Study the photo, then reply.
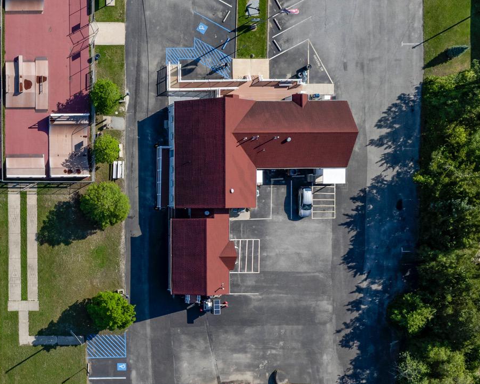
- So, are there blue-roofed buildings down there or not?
No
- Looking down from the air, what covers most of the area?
paved ground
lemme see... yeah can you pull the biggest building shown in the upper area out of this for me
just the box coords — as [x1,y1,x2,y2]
[170,94,358,208]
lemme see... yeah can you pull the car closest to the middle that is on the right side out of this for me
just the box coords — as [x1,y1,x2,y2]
[296,185,315,218]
